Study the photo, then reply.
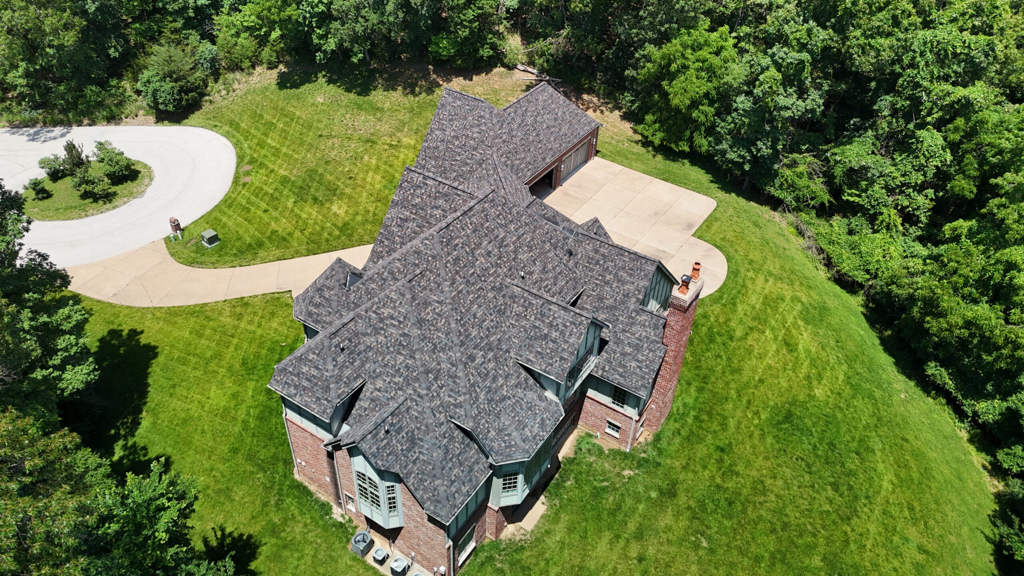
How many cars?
zero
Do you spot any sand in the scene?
No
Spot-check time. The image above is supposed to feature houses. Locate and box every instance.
[265,82,703,576]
